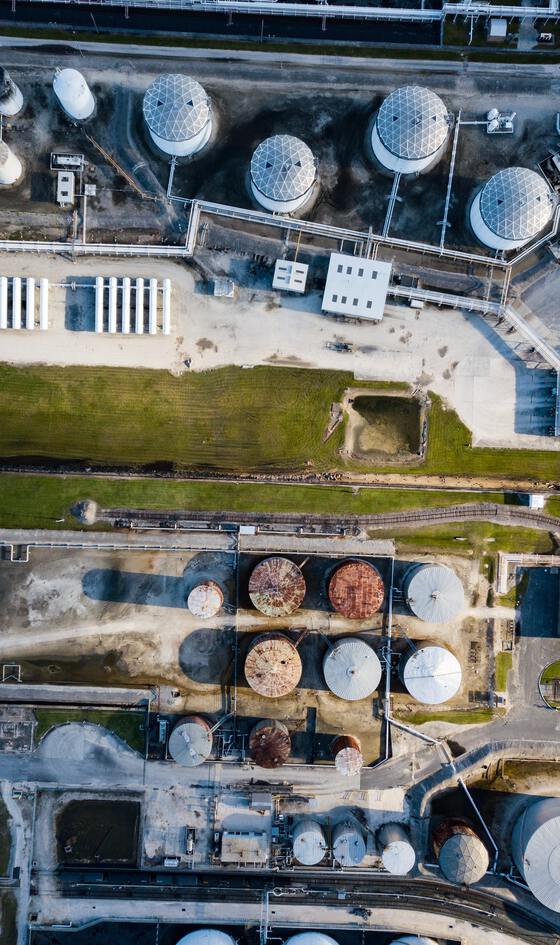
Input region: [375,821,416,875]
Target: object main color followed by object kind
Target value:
white storage tank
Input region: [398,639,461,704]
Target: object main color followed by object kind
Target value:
white storage tank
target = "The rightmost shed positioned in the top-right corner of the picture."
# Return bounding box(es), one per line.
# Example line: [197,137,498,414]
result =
[488,19,506,42]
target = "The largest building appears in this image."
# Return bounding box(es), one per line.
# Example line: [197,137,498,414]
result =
[321,253,392,324]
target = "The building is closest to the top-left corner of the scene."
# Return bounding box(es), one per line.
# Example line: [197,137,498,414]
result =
[58,172,77,212]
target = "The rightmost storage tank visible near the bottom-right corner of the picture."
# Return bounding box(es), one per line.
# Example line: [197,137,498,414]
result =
[511,796,560,911]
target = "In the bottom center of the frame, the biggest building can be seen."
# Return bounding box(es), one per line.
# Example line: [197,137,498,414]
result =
[221,822,268,863]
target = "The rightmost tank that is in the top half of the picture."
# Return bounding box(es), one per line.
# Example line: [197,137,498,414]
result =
[470,165,556,253]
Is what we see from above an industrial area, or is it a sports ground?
industrial area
